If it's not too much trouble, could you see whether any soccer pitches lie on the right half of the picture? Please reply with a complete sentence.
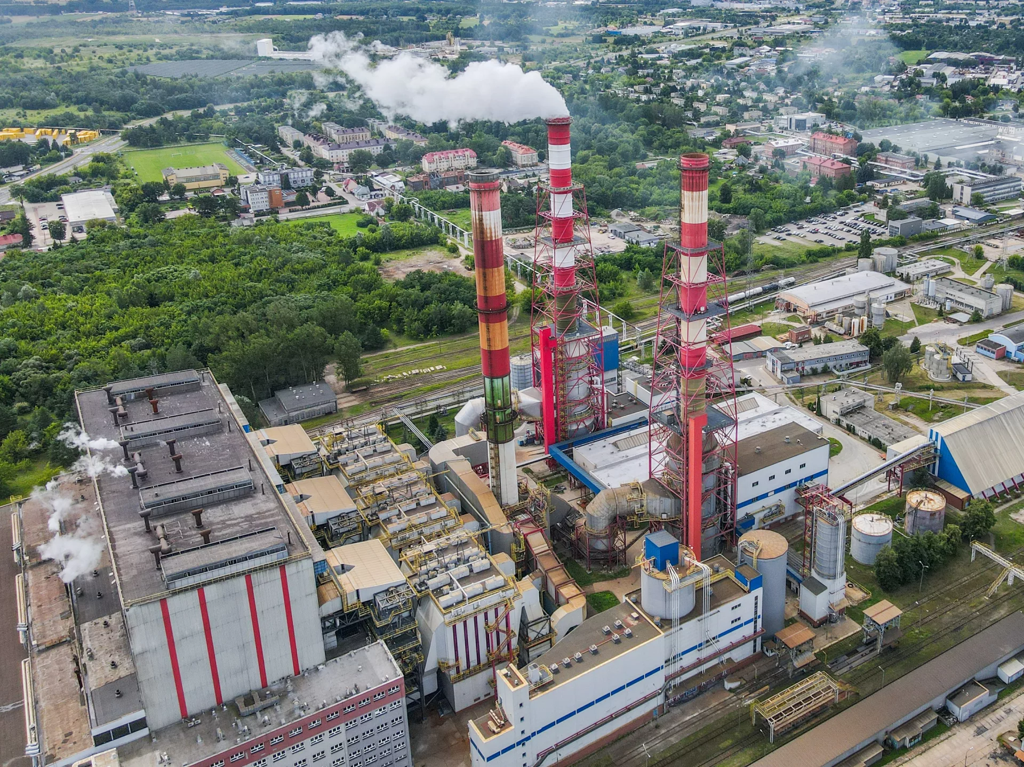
No, there's no soccer pitch to be seen on the right half of the picture.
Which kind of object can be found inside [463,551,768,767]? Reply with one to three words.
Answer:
building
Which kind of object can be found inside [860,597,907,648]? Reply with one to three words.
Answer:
shed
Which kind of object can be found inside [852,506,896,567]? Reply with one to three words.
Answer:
storage tank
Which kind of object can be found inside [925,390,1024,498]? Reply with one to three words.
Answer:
building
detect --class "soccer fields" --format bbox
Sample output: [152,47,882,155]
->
[134,142,239,174]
